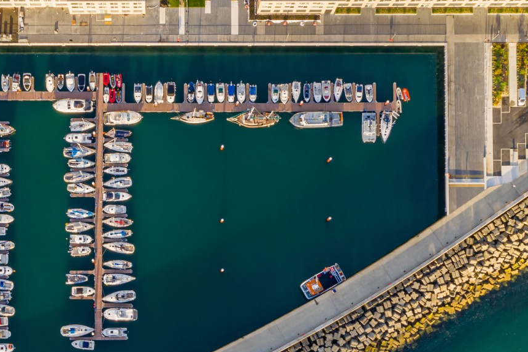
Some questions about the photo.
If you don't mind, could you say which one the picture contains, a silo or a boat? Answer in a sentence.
Of the two, only a boat appears.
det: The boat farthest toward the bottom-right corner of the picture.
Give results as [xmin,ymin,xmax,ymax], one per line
[296,262,342,298]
